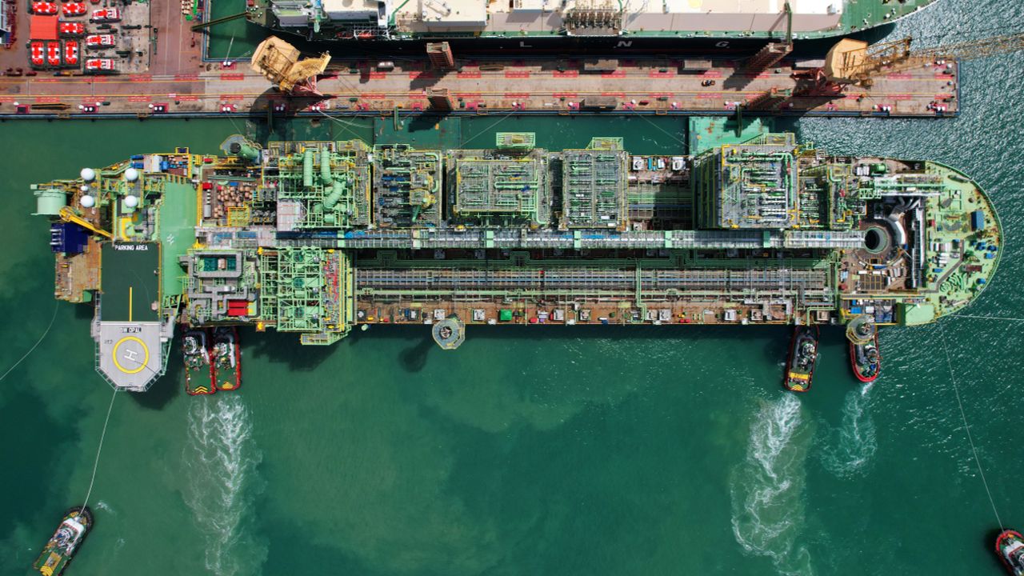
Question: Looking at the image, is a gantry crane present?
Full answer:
Yes, looking at the shot, I can spot a gantry crane.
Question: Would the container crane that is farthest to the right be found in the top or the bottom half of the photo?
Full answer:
The container crane that is farthest to the right is in the top half of the image.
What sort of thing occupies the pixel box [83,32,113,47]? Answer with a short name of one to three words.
boat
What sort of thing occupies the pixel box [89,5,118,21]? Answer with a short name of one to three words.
boat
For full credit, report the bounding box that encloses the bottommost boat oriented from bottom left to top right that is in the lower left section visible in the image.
[29,506,95,576]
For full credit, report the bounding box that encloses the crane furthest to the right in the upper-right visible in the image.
[788,32,1024,99]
